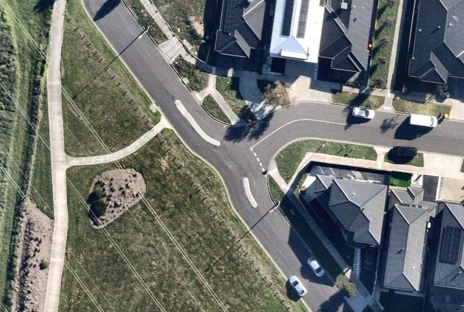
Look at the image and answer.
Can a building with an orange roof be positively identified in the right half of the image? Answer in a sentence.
No, there is no building with an orange roof in the right half of the image.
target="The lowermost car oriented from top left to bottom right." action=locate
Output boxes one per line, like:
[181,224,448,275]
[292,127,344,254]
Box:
[288,274,307,298]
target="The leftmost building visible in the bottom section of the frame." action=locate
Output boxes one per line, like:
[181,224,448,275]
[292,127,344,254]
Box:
[313,174,389,245]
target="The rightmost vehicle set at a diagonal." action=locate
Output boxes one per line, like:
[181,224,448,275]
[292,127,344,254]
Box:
[307,256,326,277]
